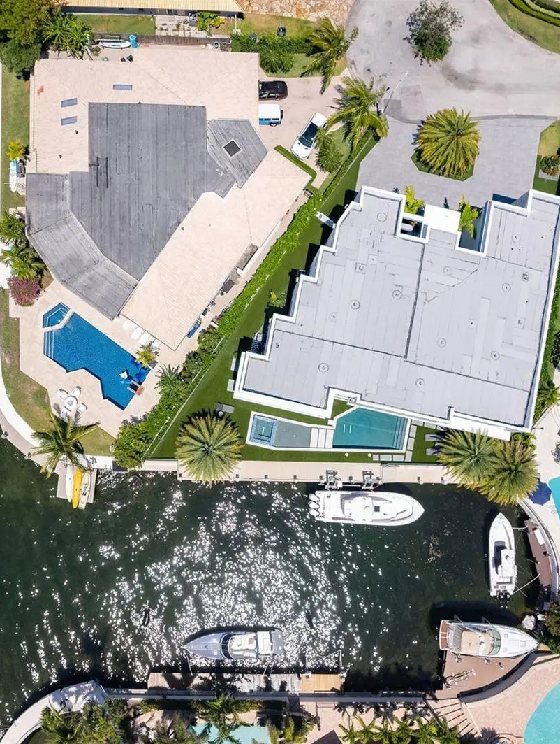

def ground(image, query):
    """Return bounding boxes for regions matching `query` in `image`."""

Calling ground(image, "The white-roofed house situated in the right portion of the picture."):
[234,187,560,441]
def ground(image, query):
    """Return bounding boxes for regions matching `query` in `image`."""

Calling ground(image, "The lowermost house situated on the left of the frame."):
[26,45,312,351]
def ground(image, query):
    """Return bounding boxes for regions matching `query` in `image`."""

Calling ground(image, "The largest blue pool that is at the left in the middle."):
[41,309,151,414]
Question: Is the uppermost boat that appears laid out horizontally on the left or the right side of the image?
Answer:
right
